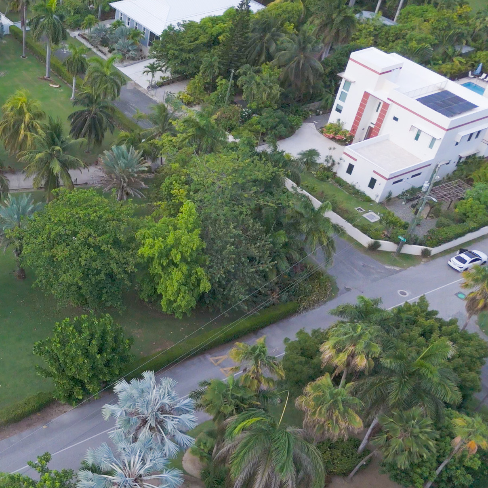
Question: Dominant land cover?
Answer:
trees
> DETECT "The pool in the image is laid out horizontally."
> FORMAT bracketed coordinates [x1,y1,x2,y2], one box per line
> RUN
[450,75,488,90]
